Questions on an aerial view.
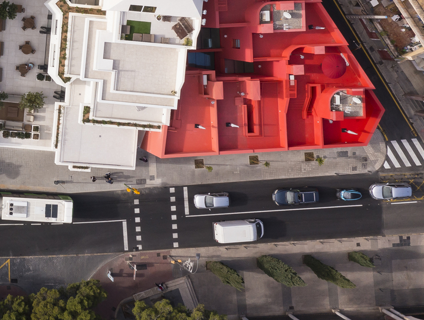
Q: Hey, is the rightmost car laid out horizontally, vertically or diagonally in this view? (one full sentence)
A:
From this overhead view, the rightmost car appears to run horizontally.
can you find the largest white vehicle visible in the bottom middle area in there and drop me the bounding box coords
[212,221,263,246]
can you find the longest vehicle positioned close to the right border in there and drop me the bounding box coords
[371,183,417,204]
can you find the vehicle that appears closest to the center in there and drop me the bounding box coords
[193,192,232,213]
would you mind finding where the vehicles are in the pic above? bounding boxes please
[272,189,322,210]
[338,188,365,205]
[193,192,232,213]
[212,221,263,246]
[371,183,417,204]
[0,197,76,227]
